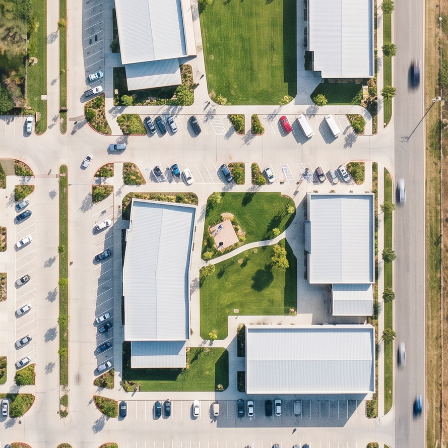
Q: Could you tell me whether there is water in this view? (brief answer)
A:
No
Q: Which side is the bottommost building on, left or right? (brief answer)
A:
right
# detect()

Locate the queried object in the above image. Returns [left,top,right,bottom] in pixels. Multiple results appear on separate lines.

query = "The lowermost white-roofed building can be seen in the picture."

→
[243,321,375,394]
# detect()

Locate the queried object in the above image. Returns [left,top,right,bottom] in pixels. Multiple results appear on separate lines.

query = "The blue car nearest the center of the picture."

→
[220,164,233,183]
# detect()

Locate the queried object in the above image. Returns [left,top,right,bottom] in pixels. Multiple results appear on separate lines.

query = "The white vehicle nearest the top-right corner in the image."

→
[324,113,341,138]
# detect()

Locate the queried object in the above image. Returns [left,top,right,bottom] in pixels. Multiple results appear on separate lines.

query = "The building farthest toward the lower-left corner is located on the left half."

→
[122,196,197,369]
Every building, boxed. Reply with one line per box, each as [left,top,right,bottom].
[122,196,197,369]
[243,321,375,394]
[306,0,374,78]
[115,0,197,91]
[304,192,375,316]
